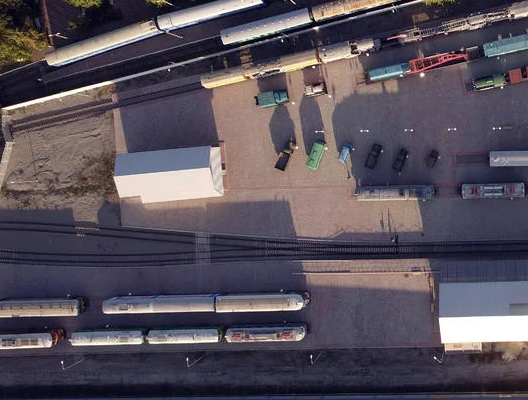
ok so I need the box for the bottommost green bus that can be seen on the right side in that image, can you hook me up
[306,139,329,171]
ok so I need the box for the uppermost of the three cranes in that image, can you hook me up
[408,9,511,44]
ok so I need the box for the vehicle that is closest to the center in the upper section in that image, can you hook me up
[273,138,300,172]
